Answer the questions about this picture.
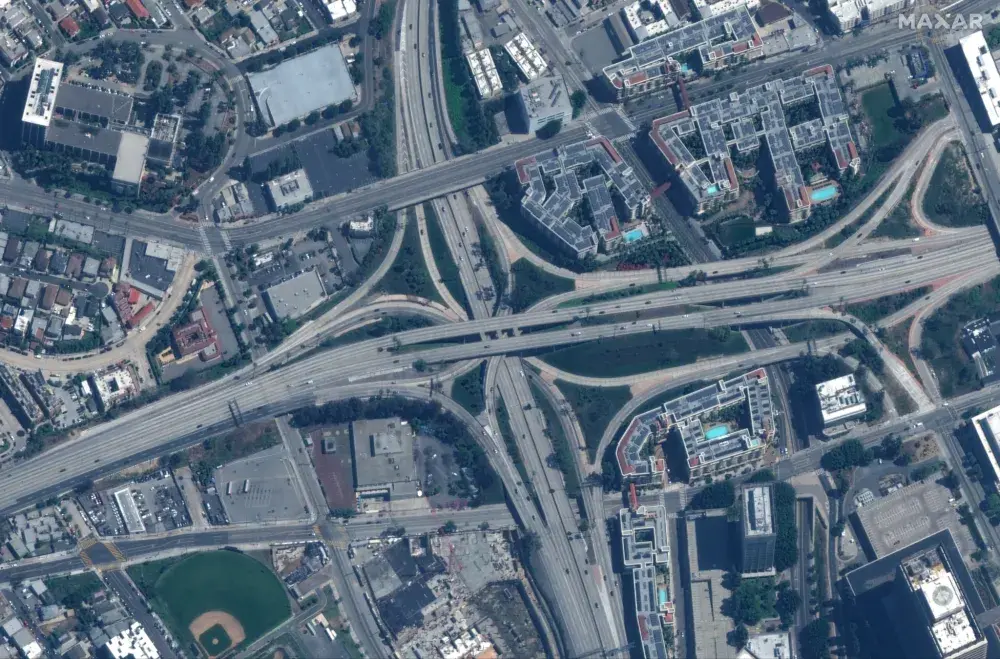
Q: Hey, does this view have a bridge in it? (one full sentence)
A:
Yes, looking at the shot, I can spot a bridge.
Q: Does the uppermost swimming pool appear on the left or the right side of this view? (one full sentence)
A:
You can find the uppermost swimming pool on the right side of the picture.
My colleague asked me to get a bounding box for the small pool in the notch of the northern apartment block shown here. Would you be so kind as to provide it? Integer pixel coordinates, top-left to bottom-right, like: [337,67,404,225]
[672,57,704,78]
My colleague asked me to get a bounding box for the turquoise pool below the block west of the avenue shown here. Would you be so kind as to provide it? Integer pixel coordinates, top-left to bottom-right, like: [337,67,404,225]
[616,219,650,248]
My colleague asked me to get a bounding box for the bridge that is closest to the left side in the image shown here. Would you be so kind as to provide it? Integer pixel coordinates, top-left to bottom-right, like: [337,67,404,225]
[392,152,495,203]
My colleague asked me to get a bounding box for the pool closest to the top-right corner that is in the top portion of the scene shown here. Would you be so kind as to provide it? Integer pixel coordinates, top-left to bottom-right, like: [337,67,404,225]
[808,180,843,205]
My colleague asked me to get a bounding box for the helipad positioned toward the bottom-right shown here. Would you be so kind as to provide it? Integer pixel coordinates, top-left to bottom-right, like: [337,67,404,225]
[933,585,953,603]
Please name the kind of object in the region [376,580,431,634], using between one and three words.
shed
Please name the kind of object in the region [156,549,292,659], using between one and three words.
baseball field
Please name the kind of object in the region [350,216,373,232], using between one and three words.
house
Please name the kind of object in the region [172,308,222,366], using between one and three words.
building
